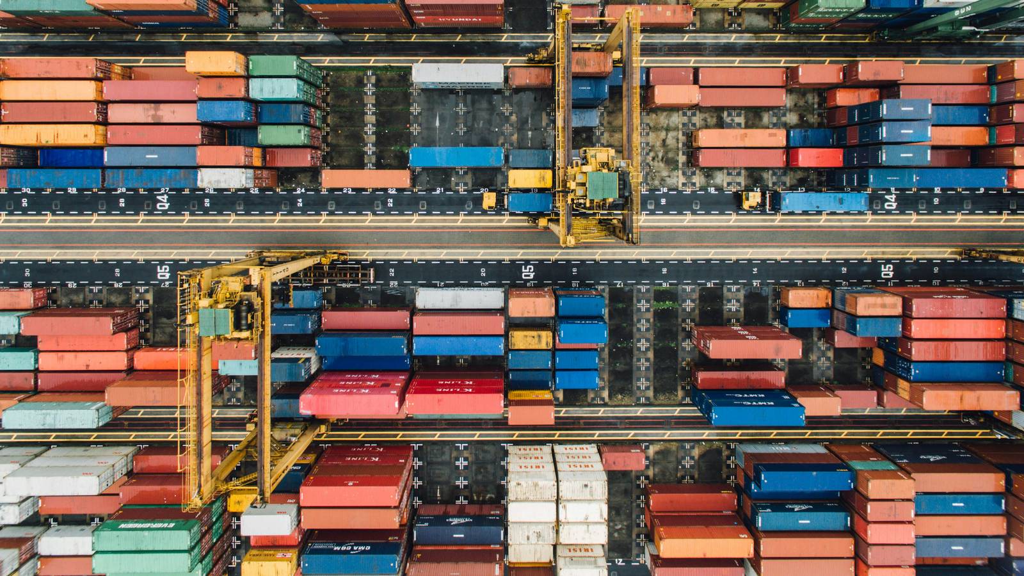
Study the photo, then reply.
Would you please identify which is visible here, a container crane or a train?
container crane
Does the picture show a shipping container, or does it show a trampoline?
shipping container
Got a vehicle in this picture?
Yes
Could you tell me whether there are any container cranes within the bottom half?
Yes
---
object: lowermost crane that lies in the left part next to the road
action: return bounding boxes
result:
[165,244,348,513]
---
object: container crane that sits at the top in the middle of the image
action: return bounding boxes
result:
[524,8,644,256]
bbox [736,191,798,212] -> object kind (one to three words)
truck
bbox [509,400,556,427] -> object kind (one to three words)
shipping container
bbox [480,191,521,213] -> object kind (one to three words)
truck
